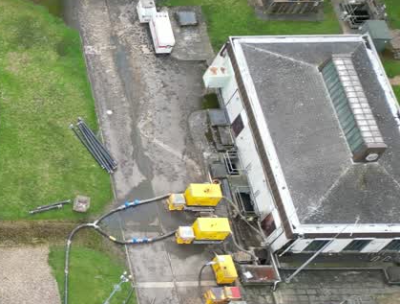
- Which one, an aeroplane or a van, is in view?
van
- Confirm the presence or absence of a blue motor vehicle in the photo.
No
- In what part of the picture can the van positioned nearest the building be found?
top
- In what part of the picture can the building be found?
right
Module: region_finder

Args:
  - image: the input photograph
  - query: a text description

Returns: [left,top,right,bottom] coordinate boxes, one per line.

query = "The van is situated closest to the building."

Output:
[147,13,183,60]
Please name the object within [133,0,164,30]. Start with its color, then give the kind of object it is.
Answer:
white van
